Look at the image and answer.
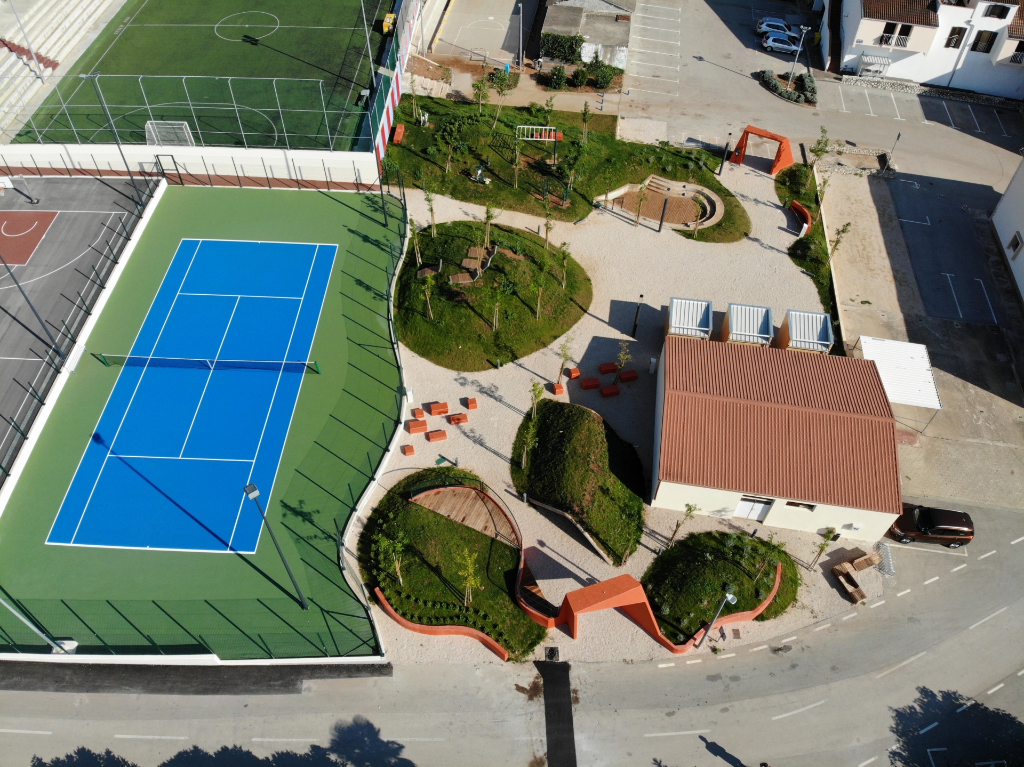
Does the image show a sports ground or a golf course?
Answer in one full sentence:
What you see here is a sports ground.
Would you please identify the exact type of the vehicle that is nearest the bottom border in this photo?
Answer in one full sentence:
Specifically, the vehicle that is nearest the bottom border is an automobile.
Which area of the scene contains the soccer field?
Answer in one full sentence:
The soccer field sits in the top left section of the image.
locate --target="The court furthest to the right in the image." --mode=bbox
[437,0,540,65]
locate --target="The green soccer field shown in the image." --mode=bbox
[13,0,388,150]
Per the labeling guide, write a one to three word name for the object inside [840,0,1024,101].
house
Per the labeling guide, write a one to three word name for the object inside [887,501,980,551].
car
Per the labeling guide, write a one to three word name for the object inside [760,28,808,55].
car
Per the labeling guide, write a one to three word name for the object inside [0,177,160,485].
basketball court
